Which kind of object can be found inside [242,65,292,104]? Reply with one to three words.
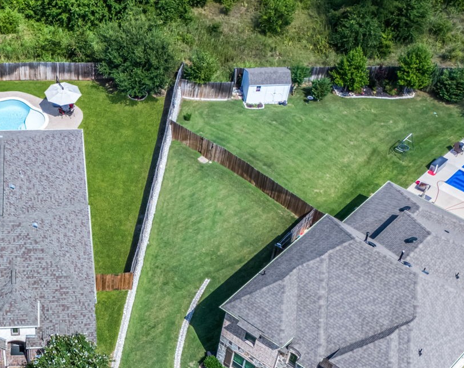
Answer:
shed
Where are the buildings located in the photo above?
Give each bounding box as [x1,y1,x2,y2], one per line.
[0,129,100,368]
[218,181,464,368]
[242,65,292,104]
